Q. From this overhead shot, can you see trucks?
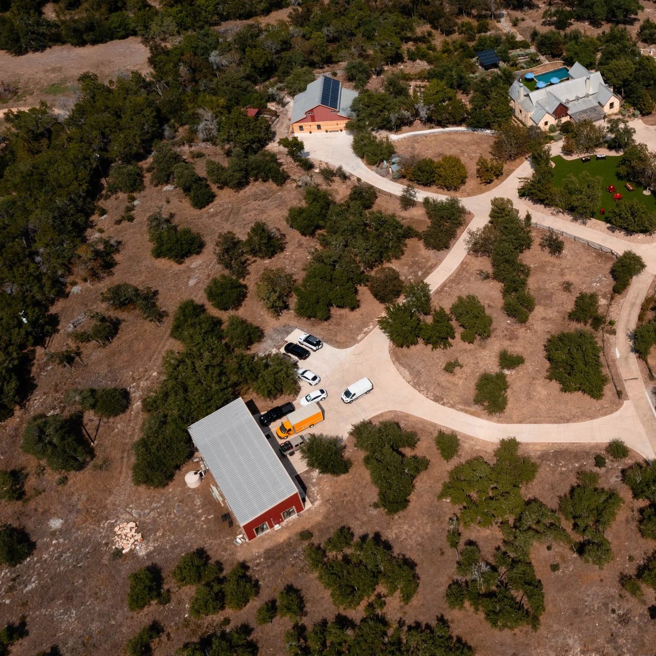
Yes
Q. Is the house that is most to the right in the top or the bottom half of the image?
top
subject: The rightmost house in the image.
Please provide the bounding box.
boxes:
[506,61,621,133]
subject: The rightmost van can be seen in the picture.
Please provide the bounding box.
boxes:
[341,375,376,404]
